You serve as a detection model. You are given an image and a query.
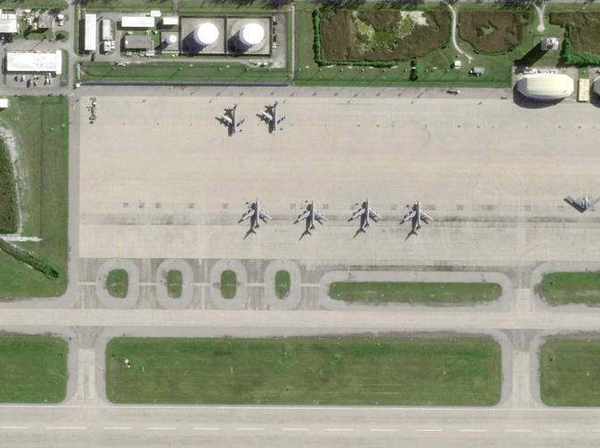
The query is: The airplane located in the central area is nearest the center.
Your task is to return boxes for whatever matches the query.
[299,201,326,228]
